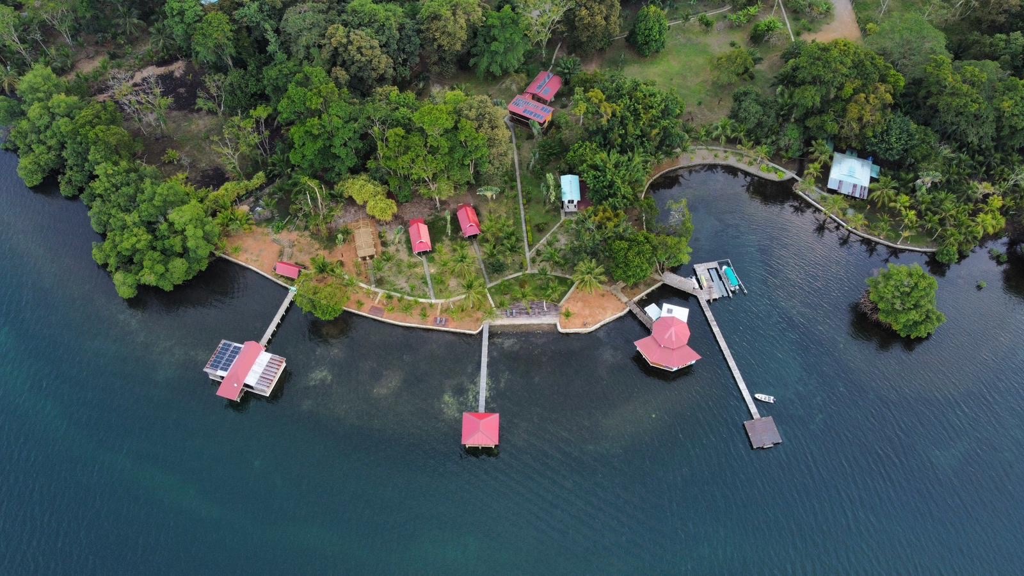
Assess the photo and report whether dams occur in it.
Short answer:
No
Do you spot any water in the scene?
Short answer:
Yes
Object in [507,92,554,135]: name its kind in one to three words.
house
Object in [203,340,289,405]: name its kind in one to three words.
house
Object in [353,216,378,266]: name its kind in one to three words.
shed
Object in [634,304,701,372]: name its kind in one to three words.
building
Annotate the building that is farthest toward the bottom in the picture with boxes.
[461,412,499,450]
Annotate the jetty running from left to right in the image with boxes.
[662,259,749,302]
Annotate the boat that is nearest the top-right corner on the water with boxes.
[723,264,741,292]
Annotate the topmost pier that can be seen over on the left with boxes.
[260,294,294,347]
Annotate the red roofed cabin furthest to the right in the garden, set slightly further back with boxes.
[456,205,481,245]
